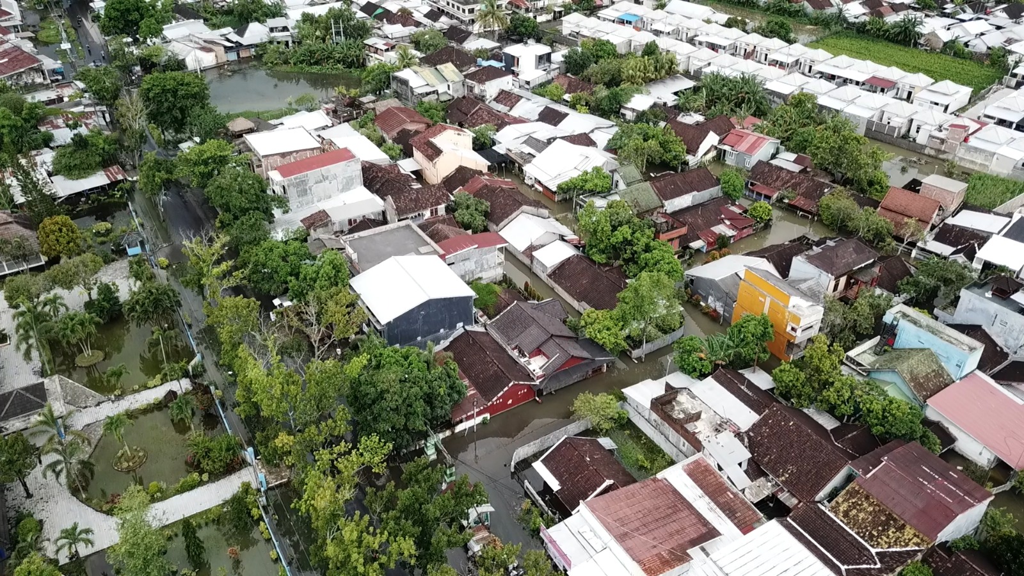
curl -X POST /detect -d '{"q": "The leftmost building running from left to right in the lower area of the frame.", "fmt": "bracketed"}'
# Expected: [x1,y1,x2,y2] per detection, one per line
[0,375,108,438]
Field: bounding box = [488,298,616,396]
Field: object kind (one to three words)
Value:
house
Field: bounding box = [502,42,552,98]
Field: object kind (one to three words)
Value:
house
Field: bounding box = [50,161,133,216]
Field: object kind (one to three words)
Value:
shed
